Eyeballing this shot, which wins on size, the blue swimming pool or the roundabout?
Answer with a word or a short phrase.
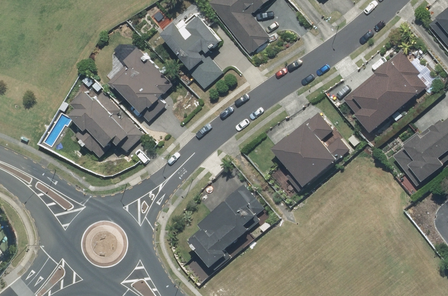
the roundabout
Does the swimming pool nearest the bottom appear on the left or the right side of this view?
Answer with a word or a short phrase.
left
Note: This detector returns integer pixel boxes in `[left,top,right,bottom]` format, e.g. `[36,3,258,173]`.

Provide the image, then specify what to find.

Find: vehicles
[315,64,331,78]
[233,92,252,108]
[134,148,152,166]
[233,118,252,133]
[368,56,387,73]
[256,12,276,21]
[248,106,266,121]
[194,124,212,140]
[218,104,236,119]
[286,58,304,74]
[166,152,182,166]
[372,20,386,34]
[358,30,376,46]
[274,67,288,80]
[266,21,280,34]
[300,72,316,87]
[335,84,354,100]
